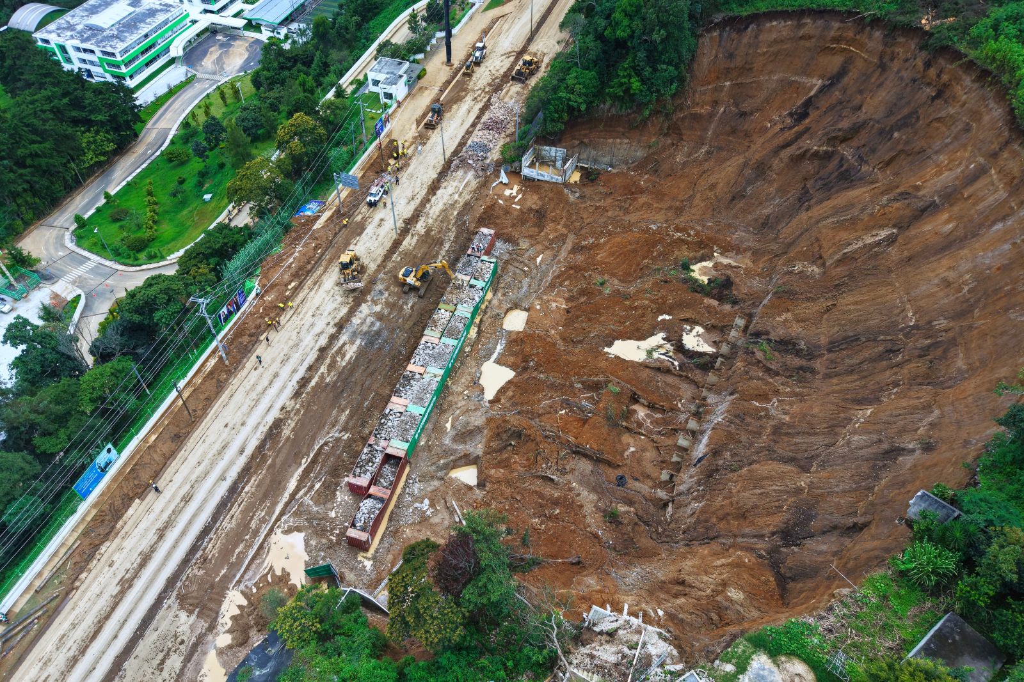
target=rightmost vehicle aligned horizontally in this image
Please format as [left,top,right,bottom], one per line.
[390,264,453,295]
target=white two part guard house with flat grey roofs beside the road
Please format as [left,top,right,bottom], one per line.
[355,53,441,102]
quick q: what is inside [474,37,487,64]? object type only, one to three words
vehicle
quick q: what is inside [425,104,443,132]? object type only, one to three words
work vehicle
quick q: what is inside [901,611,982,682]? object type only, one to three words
shed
